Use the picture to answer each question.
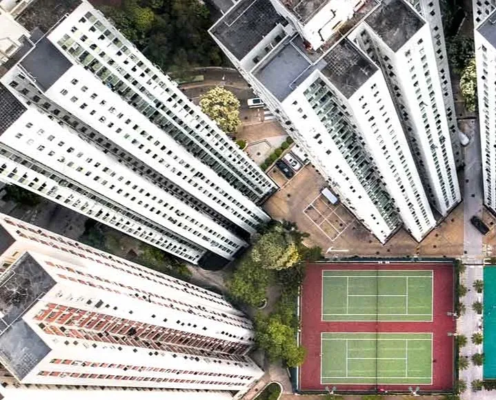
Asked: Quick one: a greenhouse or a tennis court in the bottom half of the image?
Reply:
tennis court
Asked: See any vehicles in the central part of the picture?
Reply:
Yes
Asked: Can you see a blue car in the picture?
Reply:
No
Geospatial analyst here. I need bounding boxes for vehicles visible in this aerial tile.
[470,216,490,235]
[276,160,295,179]
[320,186,341,207]
[285,153,303,173]
[245,97,268,109]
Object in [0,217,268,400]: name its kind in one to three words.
building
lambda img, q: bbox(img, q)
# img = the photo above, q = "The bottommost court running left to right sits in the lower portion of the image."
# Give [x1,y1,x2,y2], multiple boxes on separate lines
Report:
[301,327,455,393]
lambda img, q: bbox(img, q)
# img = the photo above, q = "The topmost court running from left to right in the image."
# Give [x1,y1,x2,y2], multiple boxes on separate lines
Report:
[301,262,455,327]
